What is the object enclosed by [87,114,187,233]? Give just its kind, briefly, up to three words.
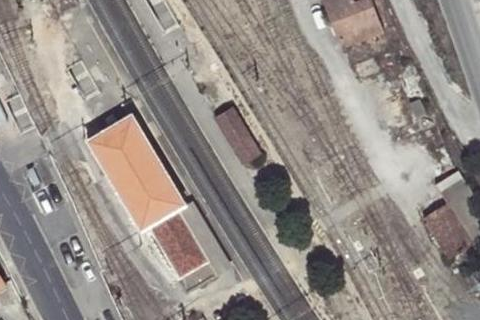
building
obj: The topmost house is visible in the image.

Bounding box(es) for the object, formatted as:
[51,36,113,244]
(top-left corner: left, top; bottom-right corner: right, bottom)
[324,0,384,48]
